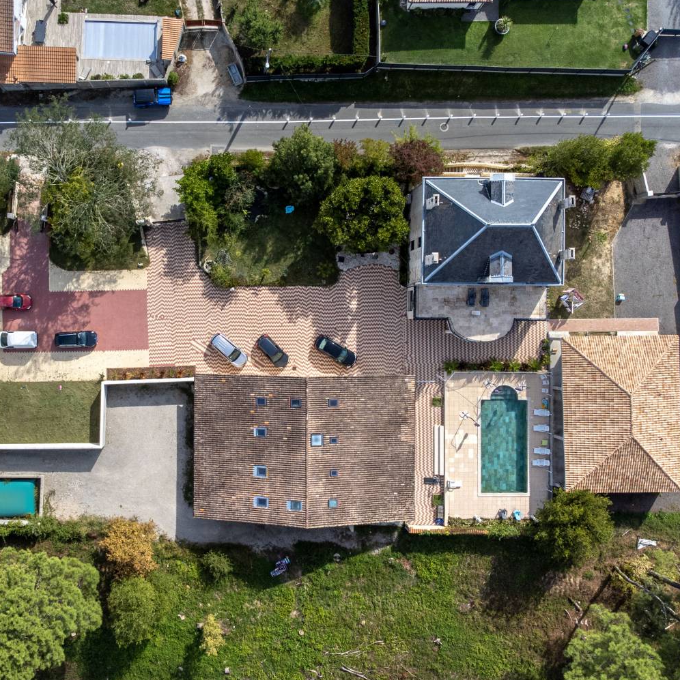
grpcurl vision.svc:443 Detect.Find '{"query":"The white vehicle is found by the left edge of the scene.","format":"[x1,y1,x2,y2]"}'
[0,330,39,352]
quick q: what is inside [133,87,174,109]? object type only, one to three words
car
